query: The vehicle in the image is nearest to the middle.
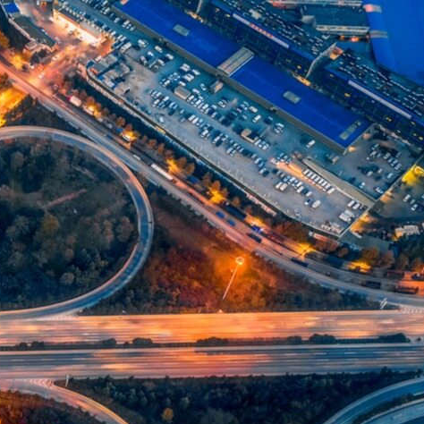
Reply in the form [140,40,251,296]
[223,203,241,216]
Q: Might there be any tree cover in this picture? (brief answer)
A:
Yes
